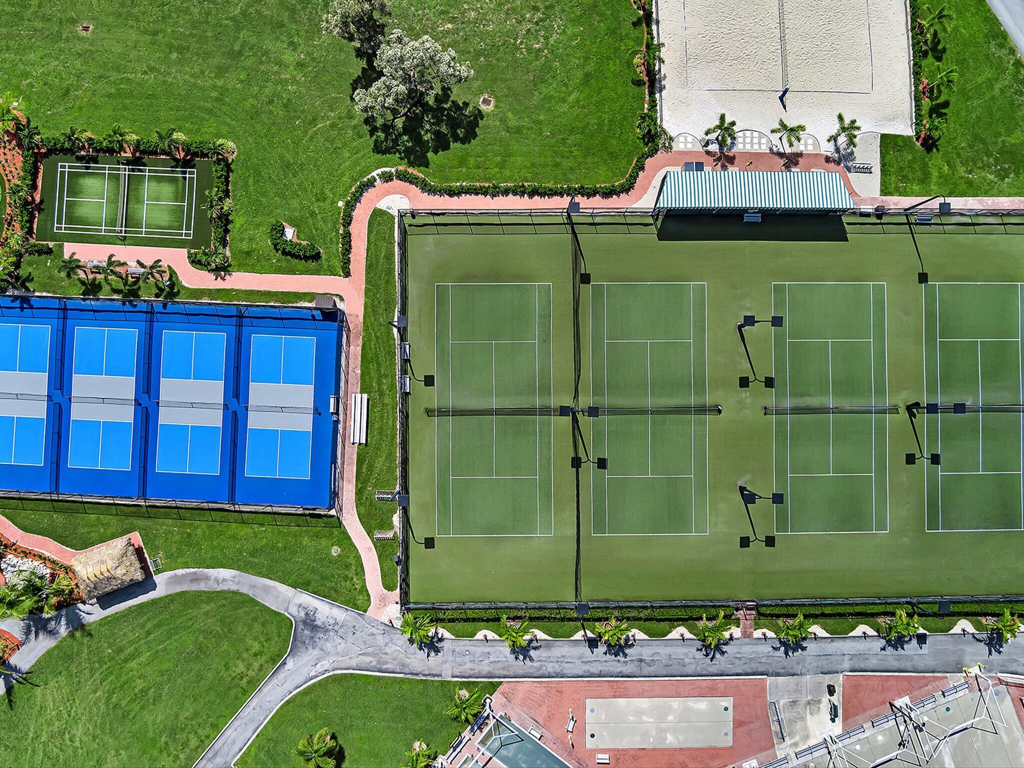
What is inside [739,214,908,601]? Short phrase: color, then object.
green tennis court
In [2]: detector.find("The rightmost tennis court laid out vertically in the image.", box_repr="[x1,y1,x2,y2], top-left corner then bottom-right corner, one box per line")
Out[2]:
[903,214,1024,598]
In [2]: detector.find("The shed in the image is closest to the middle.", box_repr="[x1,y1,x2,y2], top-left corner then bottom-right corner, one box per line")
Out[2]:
[311,295,336,310]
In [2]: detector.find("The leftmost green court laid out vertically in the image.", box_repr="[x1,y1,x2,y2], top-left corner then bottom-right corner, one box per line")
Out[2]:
[401,214,577,603]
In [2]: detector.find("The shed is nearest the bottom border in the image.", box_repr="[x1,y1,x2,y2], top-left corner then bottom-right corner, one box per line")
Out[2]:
[71,533,149,604]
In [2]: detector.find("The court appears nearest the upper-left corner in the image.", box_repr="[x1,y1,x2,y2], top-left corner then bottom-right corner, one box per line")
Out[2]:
[37,153,212,250]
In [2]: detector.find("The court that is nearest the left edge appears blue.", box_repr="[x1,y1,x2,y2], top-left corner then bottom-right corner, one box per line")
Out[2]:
[0,298,63,491]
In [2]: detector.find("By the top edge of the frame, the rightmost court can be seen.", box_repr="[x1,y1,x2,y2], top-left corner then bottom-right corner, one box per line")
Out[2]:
[660,0,915,154]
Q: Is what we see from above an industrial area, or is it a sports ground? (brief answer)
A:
sports ground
